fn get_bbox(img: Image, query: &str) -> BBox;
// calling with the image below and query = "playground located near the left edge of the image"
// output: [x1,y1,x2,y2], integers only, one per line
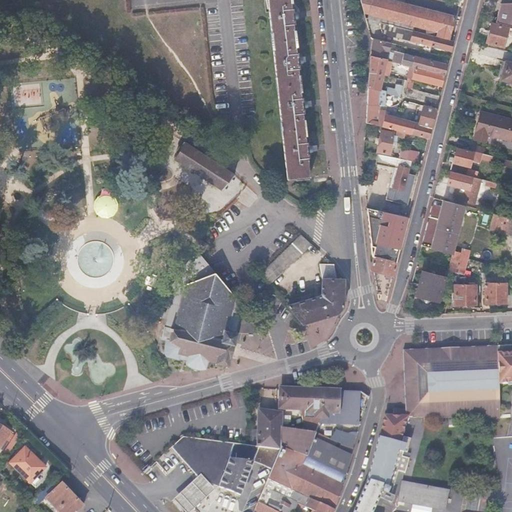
[10,78,80,149]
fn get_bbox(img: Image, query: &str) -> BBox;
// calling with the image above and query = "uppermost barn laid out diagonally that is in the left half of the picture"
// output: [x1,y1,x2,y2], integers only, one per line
[176,142,234,190]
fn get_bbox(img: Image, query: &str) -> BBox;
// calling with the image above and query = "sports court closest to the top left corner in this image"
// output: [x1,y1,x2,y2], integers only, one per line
[16,84,43,106]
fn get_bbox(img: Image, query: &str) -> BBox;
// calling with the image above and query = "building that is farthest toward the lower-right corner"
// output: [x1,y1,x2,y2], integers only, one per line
[398,480,450,512]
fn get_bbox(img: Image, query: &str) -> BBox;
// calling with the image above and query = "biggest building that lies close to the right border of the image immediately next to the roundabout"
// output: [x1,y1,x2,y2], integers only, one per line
[404,346,499,418]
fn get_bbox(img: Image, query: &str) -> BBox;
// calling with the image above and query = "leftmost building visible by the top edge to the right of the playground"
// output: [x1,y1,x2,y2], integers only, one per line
[264,0,318,182]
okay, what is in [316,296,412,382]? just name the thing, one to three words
roundabout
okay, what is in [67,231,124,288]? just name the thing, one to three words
fountain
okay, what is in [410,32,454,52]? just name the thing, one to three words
shed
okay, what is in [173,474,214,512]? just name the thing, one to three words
building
